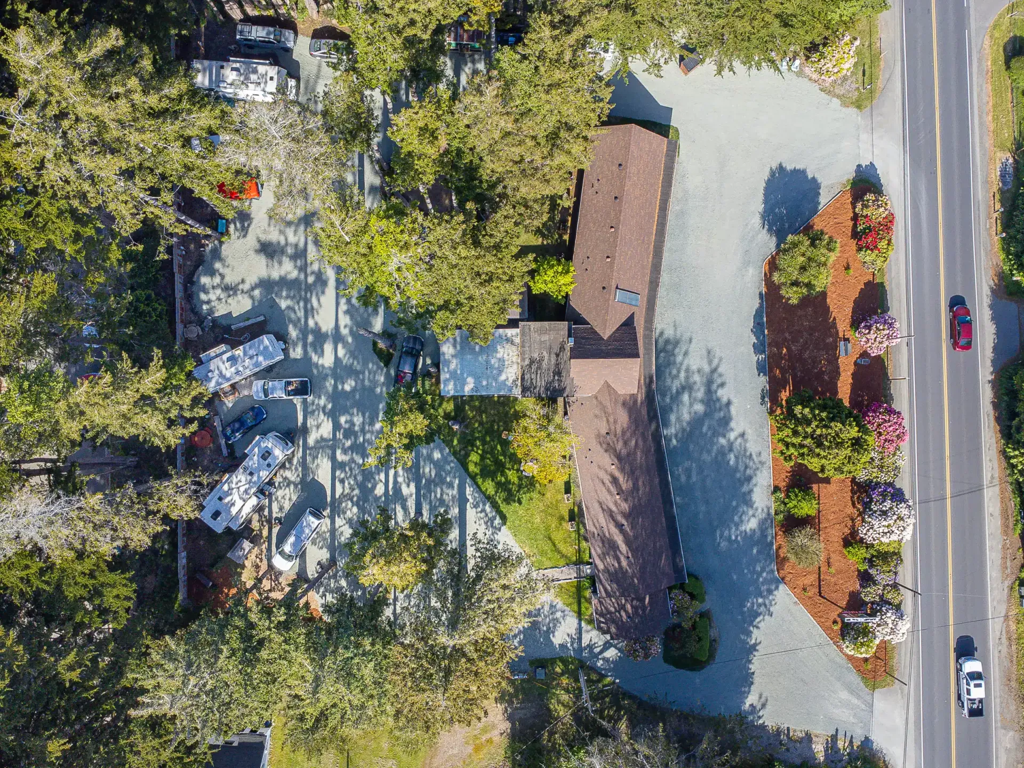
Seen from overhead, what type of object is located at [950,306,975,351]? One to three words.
car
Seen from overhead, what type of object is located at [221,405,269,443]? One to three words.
car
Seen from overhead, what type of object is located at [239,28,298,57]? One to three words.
truck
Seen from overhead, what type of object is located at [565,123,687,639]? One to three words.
building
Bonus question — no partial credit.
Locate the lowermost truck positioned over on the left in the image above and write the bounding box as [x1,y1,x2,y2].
[271,509,322,571]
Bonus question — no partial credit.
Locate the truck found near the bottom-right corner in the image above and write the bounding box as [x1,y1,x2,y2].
[957,655,986,716]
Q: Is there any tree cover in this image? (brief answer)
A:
Yes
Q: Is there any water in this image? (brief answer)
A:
No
